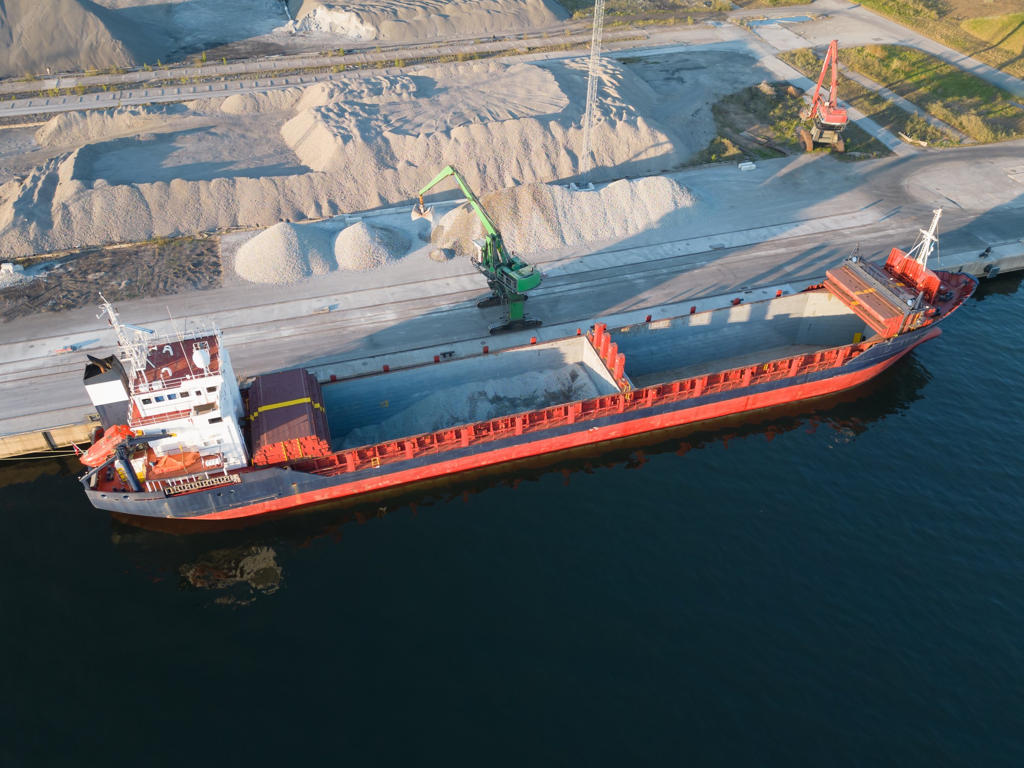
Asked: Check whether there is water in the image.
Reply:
Yes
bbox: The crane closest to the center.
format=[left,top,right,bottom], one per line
[411,160,544,331]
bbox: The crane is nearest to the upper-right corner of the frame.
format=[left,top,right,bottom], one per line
[779,37,855,149]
